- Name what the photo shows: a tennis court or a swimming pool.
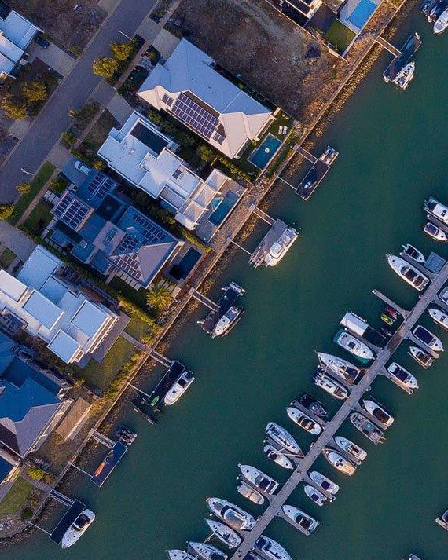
swimming pool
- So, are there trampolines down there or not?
No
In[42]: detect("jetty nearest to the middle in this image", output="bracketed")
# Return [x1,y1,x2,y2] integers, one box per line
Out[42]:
[186,284,244,331]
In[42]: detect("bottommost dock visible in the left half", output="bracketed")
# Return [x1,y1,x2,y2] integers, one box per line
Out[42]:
[28,485,86,544]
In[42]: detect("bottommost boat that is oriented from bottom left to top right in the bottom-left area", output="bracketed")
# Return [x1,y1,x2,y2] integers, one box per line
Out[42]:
[63,505,99,549]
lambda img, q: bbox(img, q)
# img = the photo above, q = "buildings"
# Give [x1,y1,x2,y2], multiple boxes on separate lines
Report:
[0,10,46,87]
[137,38,283,162]
[0,245,133,365]
[0,332,94,459]
[275,0,350,23]
[98,110,235,231]
[52,169,187,292]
